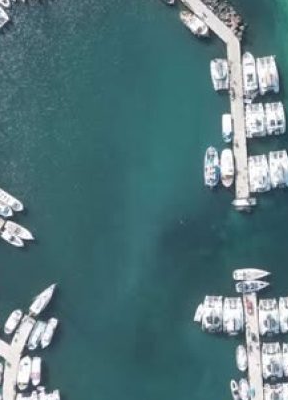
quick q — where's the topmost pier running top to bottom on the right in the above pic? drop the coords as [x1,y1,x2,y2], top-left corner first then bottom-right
[180,0,250,199]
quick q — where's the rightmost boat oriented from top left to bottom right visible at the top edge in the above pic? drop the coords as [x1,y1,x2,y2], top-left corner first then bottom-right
[179,9,209,38]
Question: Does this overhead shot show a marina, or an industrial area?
marina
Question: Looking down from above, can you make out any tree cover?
No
